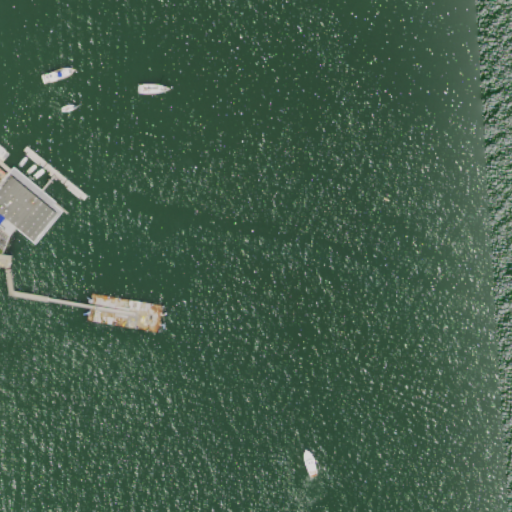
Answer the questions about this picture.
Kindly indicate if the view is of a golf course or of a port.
port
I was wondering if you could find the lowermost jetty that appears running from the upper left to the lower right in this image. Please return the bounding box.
[0,254,49,302]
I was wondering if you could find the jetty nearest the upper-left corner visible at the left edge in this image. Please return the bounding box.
[24,147,87,200]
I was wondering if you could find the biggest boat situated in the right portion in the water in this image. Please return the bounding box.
[304,450,318,479]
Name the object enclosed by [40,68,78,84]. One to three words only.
boat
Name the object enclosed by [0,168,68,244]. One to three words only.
building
